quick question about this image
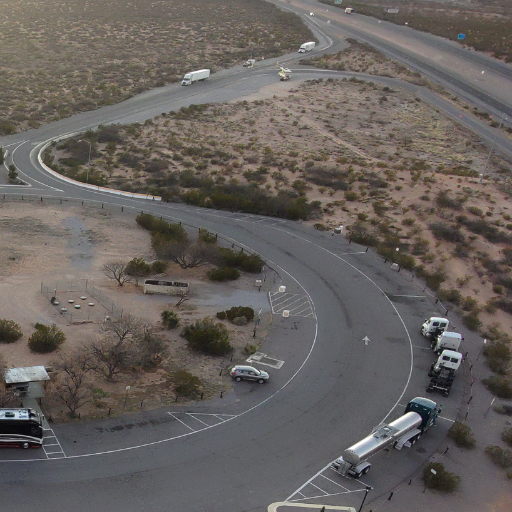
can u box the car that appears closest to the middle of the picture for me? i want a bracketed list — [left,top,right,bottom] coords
[231,365,270,385]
